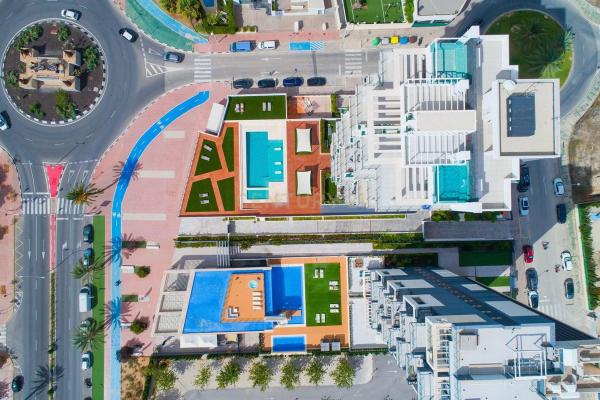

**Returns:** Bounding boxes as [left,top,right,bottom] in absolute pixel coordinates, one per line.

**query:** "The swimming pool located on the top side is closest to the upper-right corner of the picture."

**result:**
[430,39,468,85]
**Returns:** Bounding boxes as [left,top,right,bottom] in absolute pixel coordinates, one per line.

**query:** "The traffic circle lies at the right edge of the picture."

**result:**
[486,9,574,88]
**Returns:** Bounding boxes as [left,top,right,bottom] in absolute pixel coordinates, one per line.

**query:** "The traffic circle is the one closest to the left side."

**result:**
[2,19,106,123]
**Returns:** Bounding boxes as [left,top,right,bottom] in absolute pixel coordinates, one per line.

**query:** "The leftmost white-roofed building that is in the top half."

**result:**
[206,103,226,135]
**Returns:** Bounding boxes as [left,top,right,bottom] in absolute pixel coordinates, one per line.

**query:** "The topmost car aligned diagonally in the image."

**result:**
[120,27,139,43]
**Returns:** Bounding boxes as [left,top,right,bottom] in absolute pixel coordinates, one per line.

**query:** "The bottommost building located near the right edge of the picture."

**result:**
[369,267,600,400]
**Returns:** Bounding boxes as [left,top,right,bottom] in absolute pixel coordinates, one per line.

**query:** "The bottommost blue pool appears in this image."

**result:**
[271,335,306,353]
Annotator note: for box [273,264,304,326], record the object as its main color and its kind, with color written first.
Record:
blue swimming pool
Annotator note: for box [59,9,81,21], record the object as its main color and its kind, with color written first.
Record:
white vehicle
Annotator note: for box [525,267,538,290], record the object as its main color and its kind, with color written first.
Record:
blue vehicle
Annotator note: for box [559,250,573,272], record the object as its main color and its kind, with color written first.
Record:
white car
